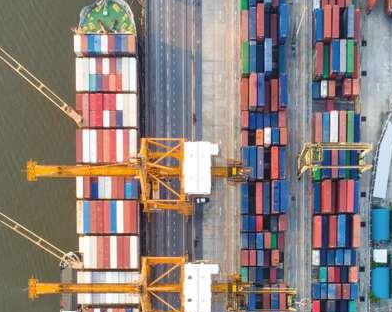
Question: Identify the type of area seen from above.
port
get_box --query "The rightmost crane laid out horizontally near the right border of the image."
[299,141,378,180]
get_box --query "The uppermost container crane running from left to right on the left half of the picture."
[18,138,254,219]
